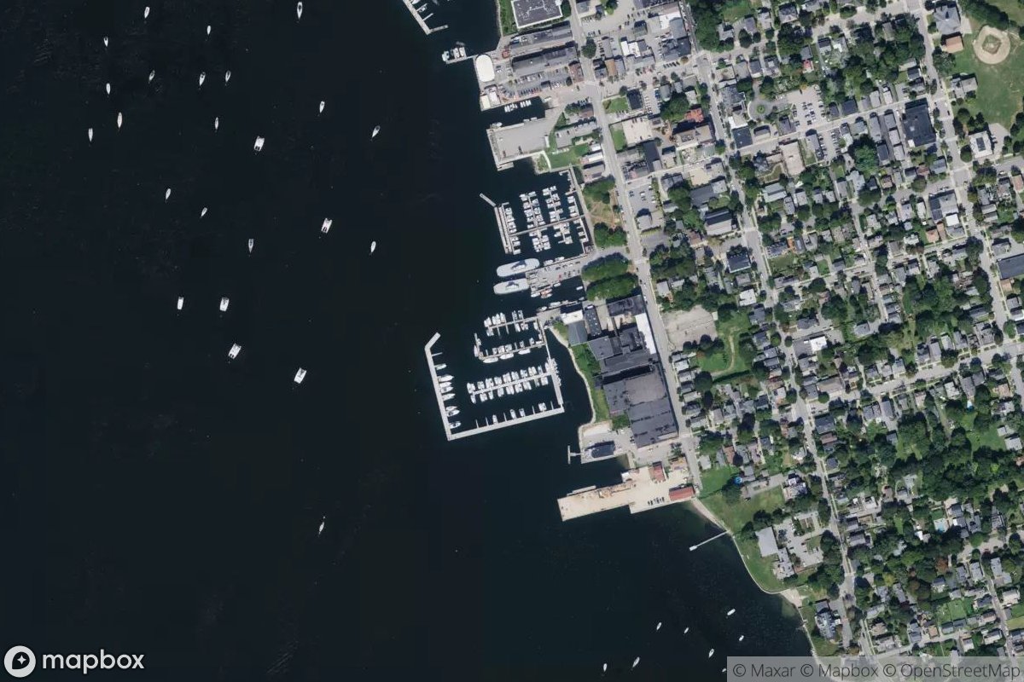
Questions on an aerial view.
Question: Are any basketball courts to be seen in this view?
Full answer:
No, no basketball court is visible in the scene.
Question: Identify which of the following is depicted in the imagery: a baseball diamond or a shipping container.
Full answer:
I can see a baseball diamond in this picture.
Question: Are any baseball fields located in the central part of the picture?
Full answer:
No, there is no baseball field in the central part of the picture.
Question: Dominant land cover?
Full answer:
What you mostly see from above here is water.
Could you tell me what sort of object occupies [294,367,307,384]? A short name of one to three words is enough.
boat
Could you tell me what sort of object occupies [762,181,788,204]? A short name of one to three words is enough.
house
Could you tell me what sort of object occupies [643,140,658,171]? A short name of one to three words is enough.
building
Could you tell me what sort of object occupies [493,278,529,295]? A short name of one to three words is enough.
ship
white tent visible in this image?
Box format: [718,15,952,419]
[476,54,494,82]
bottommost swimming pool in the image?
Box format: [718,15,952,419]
[933,518,949,534]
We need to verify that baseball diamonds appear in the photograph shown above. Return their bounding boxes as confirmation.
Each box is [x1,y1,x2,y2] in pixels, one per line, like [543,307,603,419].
[971,25,1012,67]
